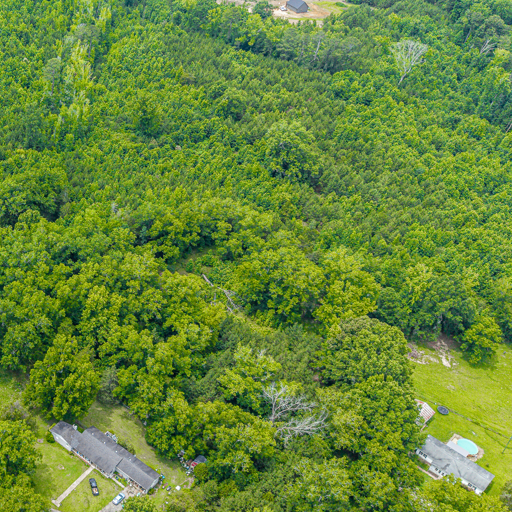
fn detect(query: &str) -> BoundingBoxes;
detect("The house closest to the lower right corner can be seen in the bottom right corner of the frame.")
[413,428,490,492]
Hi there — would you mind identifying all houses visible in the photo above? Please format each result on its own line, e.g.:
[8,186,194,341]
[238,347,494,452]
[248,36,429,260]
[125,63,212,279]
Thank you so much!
[285,0,310,10]
[50,421,161,495]
[413,428,490,492]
